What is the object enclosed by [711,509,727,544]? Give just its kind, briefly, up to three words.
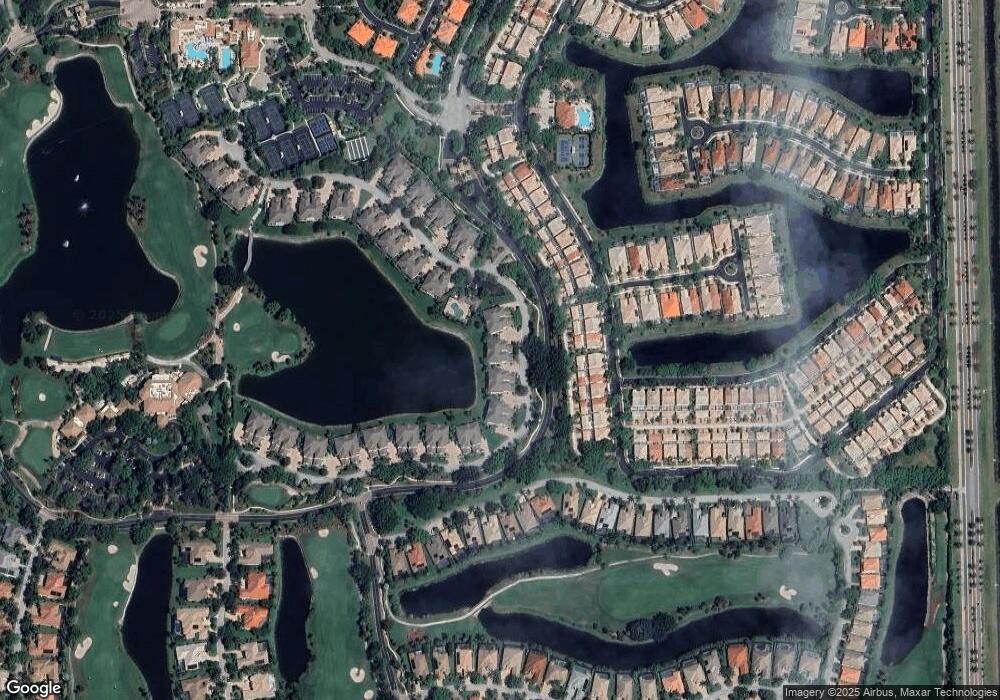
house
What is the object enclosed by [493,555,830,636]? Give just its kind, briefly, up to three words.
golf course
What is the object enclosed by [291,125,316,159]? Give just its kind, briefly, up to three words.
tennis court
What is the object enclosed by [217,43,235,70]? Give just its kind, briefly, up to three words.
swimming pool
